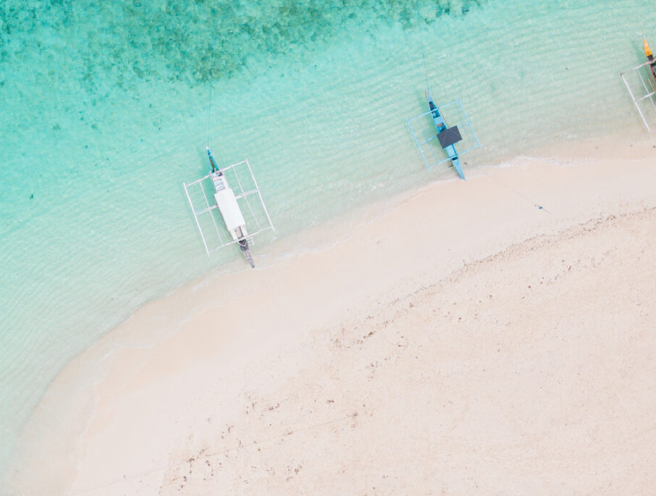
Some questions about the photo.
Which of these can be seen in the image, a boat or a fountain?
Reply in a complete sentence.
The one in the frame is a boat.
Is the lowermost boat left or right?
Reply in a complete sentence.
You can find the lowermost boat on the left side of the picture.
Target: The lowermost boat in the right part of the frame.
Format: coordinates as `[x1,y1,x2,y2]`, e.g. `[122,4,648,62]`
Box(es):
[407,86,481,182]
